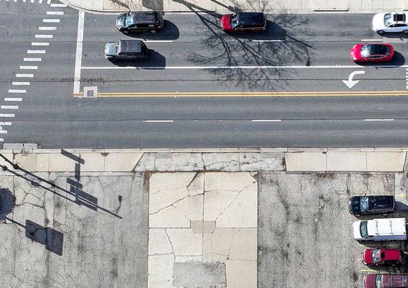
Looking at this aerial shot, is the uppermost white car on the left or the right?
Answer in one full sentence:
The uppermost white car sits on the right side.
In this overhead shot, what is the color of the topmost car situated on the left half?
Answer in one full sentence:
In this view, the topmost car situated on the left half is black.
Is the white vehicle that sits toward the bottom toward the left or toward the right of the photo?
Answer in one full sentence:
The white vehicle that sits toward the bottom sits on the right side.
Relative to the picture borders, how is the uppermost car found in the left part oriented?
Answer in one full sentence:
The uppermost car found in the left part is oriented from side to side.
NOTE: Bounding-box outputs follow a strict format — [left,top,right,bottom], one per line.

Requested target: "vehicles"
[372,11,408,35]
[350,42,394,64]
[118,11,164,35]
[349,195,395,217]
[364,273,408,288]
[105,40,148,62]
[354,219,408,241]
[362,248,404,267]
[221,11,267,35]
